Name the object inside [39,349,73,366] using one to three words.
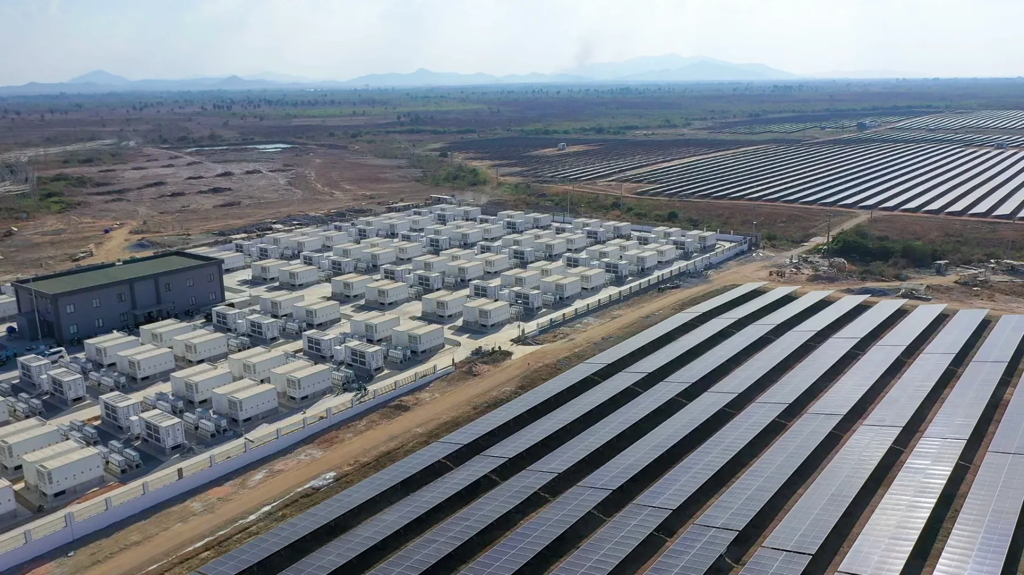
car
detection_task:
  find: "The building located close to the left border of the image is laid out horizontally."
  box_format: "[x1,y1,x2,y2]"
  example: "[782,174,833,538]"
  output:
[0,250,227,345]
